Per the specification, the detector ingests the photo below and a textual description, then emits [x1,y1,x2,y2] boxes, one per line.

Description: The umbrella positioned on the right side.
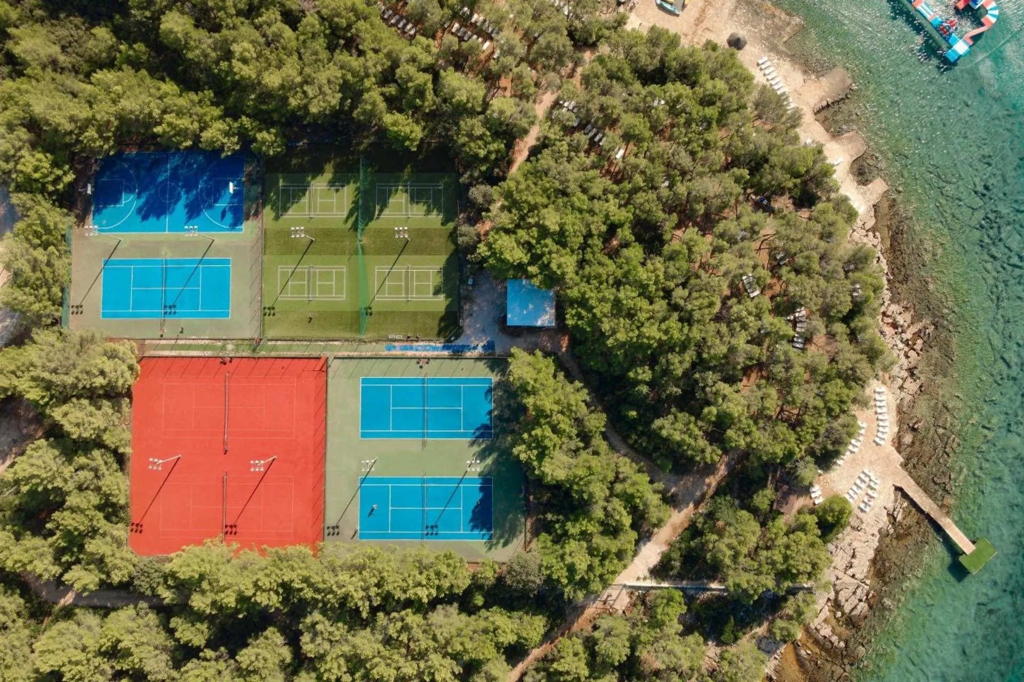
[726,32,746,52]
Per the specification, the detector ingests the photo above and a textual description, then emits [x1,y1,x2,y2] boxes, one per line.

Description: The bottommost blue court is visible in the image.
[359,477,493,540]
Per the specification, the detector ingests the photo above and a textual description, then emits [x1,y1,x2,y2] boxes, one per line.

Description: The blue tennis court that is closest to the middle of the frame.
[360,378,493,439]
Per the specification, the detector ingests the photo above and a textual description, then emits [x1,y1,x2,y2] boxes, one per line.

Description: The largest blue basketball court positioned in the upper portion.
[92,151,245,233]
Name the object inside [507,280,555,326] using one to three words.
shed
